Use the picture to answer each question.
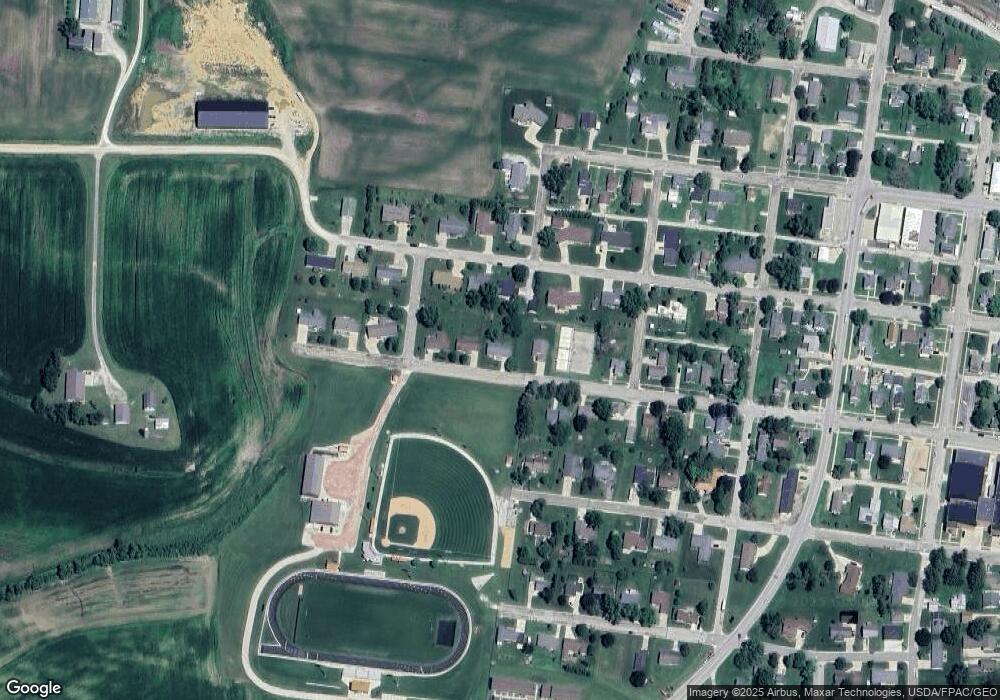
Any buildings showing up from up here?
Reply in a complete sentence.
Yes, you can see a building in this photo.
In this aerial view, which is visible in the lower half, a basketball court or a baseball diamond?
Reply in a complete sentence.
Looking in the lower half, you will find a baseball diamond.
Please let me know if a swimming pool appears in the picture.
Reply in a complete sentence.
No, I can't see a single swimming pool in this photo.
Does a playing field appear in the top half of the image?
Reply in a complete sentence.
No, the scene shows no playing field in the top half of the image.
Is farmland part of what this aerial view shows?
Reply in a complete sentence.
Yes, there's farmland in this view.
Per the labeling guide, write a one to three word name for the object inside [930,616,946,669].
building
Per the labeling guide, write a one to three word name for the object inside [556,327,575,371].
tennis court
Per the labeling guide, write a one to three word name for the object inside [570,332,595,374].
tennis court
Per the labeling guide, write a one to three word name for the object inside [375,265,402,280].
house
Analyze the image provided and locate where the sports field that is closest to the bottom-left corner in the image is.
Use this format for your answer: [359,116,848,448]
[275,577,462,667]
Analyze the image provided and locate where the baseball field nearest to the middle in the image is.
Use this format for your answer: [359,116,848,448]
[373,432,497,563]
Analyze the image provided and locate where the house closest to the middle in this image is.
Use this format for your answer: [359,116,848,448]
[485,343,513,359]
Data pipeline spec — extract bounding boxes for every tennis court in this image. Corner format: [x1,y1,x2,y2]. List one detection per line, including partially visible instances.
[570,332,595,374]
[556,327,575,371]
